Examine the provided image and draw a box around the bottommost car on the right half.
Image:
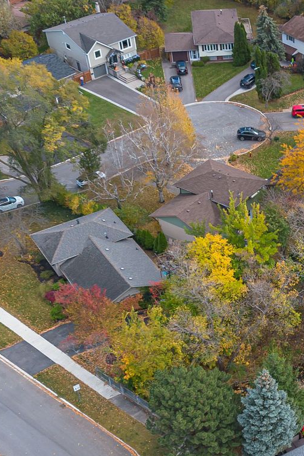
[236,126,265,141]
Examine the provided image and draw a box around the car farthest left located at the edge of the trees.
[0,195,23,210]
